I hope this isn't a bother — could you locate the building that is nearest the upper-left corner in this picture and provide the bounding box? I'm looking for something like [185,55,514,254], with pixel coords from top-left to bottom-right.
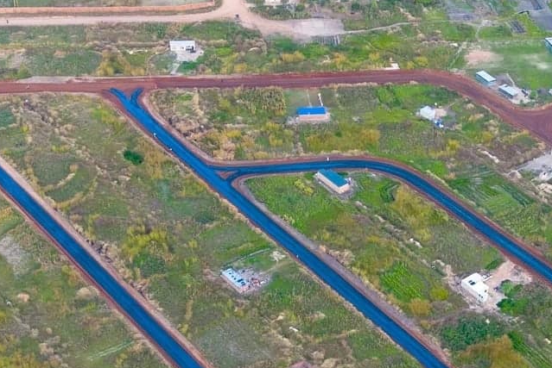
[171,40,195,56]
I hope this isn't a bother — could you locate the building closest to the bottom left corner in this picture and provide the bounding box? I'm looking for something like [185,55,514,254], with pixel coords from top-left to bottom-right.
[219,268,248,296]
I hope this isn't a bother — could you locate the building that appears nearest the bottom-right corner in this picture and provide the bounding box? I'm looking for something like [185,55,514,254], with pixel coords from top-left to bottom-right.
[458,276,489,305]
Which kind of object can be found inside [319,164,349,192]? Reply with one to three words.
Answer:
house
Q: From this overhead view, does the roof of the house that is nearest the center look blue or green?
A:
blue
